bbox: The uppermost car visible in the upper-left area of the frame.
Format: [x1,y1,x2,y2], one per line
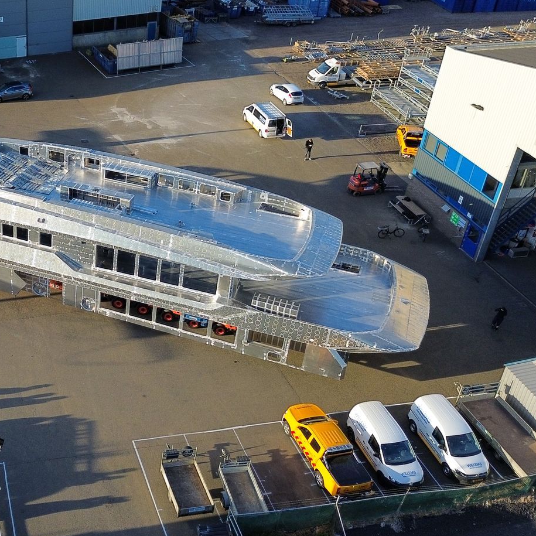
[0,78,32,99]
